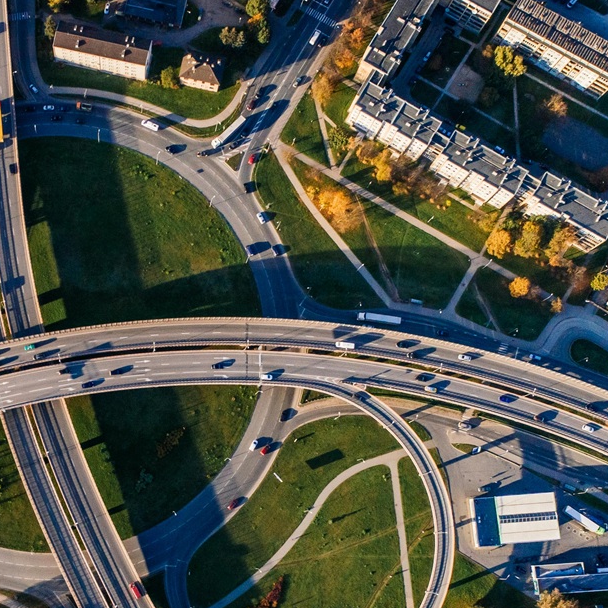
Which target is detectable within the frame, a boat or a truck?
truck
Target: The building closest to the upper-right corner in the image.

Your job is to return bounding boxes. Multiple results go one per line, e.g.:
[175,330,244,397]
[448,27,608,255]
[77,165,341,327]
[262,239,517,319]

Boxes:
[493,0,608,98]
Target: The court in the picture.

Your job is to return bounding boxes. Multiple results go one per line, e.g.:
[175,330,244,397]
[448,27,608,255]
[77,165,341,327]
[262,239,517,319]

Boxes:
[542,117,608,171]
